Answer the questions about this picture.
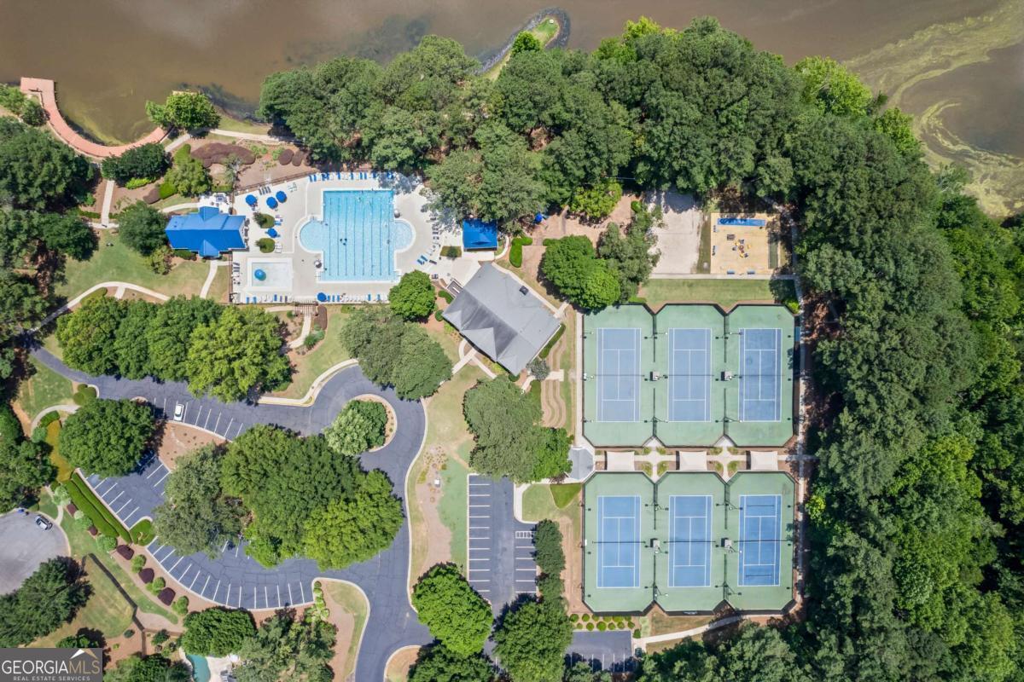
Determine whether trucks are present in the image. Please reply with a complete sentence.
No, no truck is visible in the view.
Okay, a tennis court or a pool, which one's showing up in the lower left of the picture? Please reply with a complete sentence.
The feature located in the lower left of the picture is a pool.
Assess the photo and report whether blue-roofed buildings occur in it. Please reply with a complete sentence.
Yes, the picture does show a blue-roofed building.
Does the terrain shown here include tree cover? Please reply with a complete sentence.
Yes, tree cover can be seen from above here.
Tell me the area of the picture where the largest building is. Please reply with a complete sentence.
The largest building sits in the center section of the image.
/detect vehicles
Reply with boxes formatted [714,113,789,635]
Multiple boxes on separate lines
[32,514,52,531]
[172,402,184,421]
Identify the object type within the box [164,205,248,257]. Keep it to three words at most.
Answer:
building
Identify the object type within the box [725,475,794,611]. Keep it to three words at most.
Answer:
tennis court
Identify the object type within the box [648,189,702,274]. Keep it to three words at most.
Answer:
sports court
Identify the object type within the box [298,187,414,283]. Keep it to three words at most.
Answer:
swimming pool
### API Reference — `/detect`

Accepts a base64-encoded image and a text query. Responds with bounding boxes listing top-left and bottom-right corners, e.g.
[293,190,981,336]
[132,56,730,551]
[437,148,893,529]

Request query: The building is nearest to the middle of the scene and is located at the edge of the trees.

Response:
[442,260,561,376]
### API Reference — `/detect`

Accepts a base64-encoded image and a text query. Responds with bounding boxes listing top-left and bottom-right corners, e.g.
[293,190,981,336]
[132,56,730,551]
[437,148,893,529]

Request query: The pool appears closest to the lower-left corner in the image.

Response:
[185,651,211,682]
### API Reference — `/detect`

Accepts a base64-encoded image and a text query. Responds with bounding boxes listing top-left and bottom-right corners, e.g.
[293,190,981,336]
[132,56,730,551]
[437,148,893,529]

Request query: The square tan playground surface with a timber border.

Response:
[711,213,769,274]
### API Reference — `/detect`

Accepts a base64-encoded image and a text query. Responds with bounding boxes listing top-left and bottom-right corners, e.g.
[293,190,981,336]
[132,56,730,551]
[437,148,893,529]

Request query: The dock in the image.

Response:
[18,75,167,158]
